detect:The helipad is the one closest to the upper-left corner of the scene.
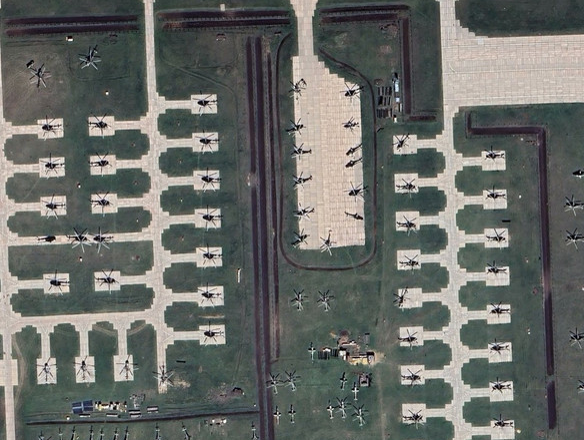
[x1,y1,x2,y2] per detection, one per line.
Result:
[37,118,63,137]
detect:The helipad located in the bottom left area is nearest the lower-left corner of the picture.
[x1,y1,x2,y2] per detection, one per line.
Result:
[36,358,56,384]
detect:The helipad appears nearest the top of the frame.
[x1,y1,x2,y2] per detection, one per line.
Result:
[191,94,216,113]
